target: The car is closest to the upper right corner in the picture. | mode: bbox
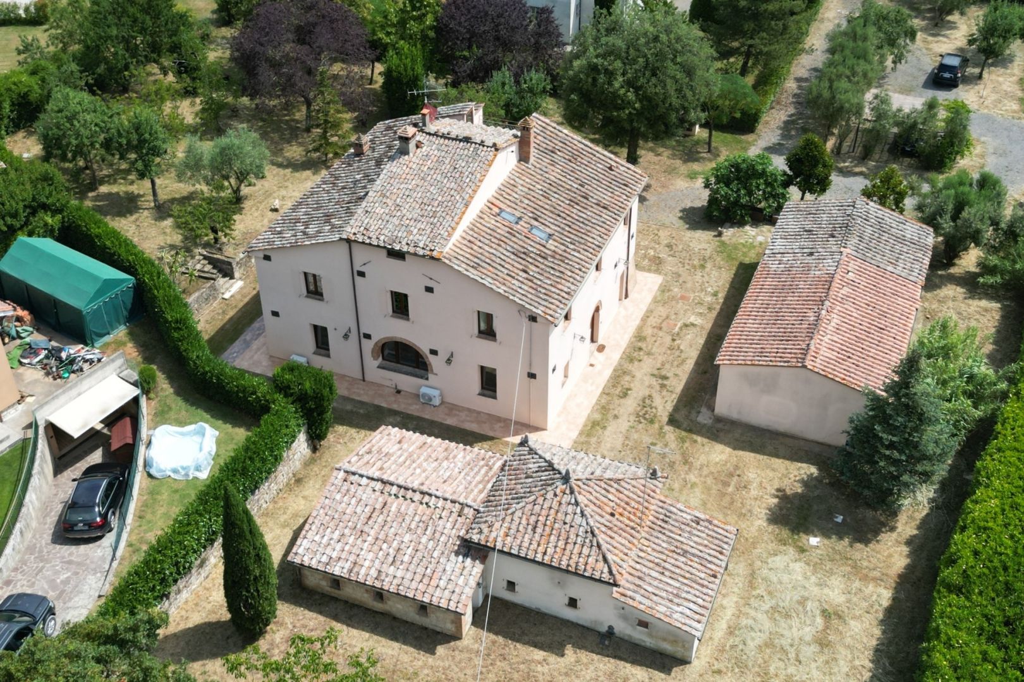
[930,52,964,91]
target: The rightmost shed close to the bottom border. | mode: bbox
[467,434,743,661]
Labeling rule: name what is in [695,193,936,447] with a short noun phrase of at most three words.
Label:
barn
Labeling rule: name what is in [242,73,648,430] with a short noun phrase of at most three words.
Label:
house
